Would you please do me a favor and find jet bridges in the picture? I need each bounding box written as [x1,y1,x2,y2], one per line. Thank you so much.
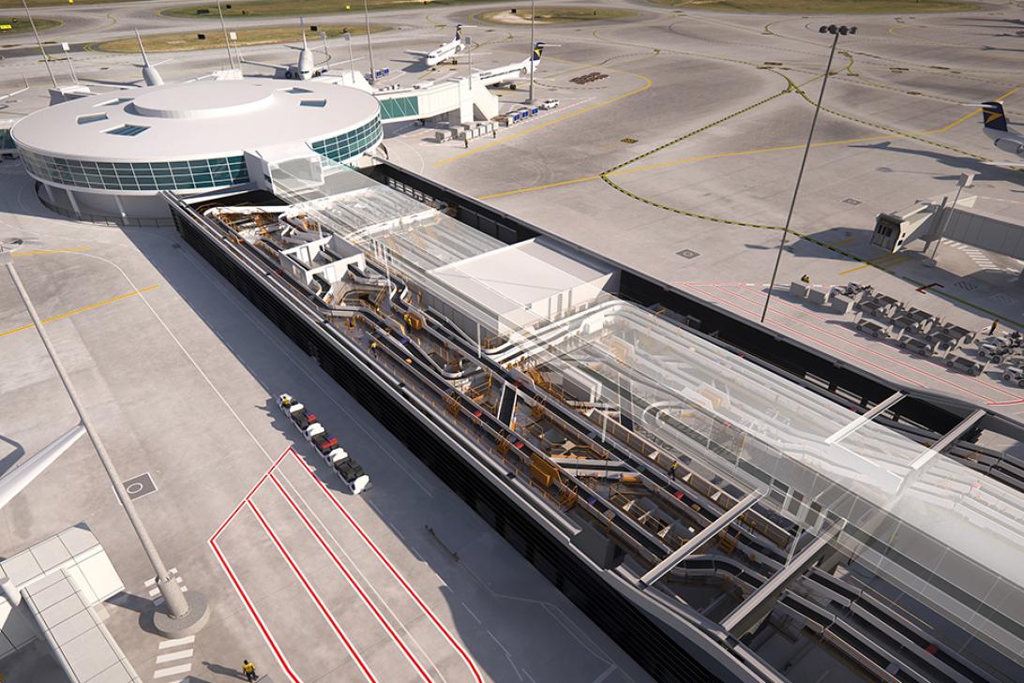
[376,83,465,127]
[868,176,1024,258]
[0,524,165,683]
